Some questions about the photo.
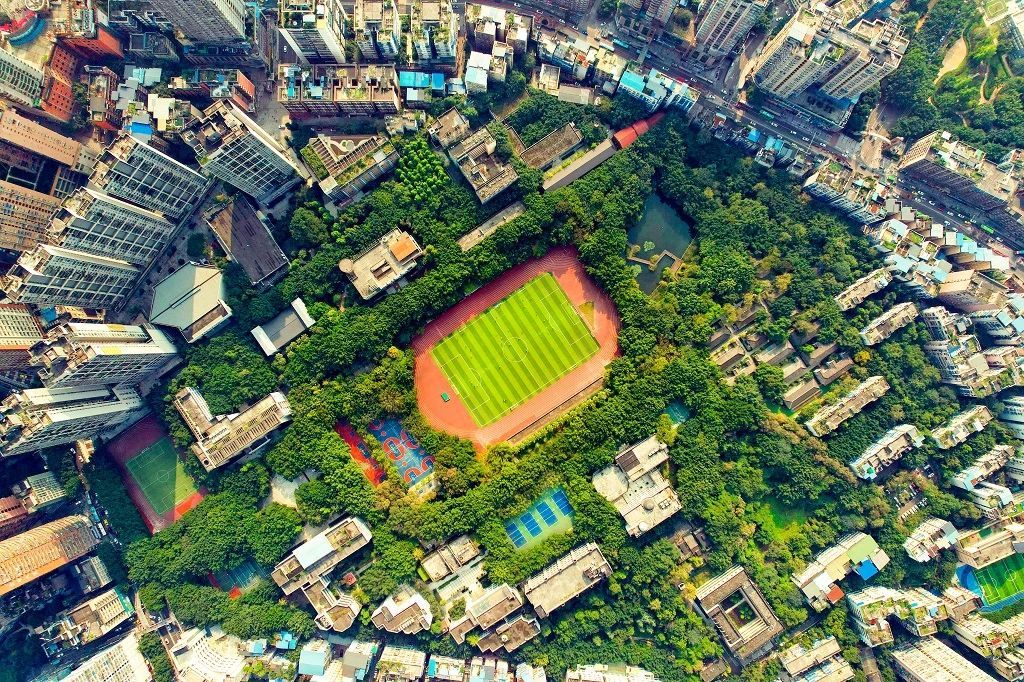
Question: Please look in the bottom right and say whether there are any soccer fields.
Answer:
Yes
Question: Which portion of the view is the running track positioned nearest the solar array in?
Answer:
center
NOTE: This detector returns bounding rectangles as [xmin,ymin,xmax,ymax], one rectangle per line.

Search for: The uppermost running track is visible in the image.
[411,246,623,455]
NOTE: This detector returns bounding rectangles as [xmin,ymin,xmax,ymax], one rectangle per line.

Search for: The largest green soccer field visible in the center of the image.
[432,273,600,427]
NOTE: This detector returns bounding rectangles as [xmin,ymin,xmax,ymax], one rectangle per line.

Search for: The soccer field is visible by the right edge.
[973,547,1024,606]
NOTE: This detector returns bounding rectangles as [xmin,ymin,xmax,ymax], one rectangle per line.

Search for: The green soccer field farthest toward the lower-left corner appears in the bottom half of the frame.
[125,439,194,515]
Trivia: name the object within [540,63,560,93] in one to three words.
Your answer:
house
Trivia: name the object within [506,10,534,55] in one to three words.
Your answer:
house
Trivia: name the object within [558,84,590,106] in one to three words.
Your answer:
shed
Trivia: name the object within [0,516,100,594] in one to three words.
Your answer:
building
